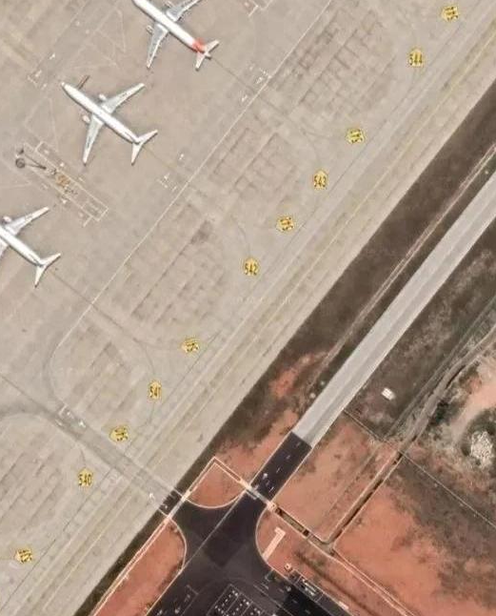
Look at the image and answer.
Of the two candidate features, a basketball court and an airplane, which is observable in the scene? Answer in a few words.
airplane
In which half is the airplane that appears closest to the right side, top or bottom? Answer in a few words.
top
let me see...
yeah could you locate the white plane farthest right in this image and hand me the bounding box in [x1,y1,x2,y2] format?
[132,0,218,69]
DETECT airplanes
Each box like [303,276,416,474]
[62,83,156,166]
[132,0,218,69]
[0,205,60,283]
